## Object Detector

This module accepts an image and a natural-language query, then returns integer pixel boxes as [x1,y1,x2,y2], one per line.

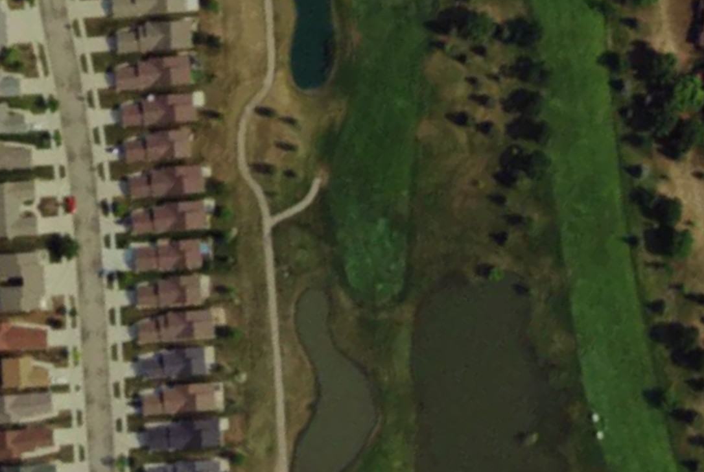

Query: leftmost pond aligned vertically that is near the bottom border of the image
[294,290,377,472]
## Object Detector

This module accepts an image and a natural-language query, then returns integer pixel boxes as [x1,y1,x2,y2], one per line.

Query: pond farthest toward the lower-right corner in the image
[412,279,569,472]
